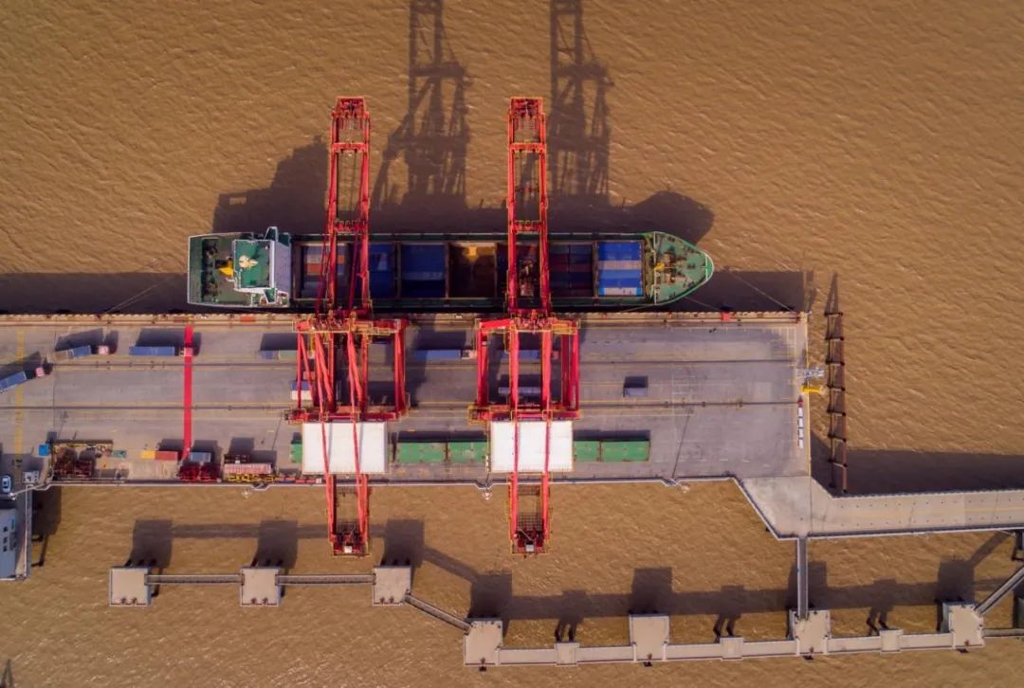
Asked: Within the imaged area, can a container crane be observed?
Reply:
Yes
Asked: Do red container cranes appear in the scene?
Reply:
Yes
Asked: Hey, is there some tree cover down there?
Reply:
No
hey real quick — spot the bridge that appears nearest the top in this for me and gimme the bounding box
[810,477,1024,538]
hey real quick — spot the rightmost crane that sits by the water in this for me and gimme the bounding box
[469,95,588,554]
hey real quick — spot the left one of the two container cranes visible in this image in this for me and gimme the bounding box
[287,97,424,555]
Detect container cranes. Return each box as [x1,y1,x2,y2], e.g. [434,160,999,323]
[469,95,588,554]
[287,97,424,555]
